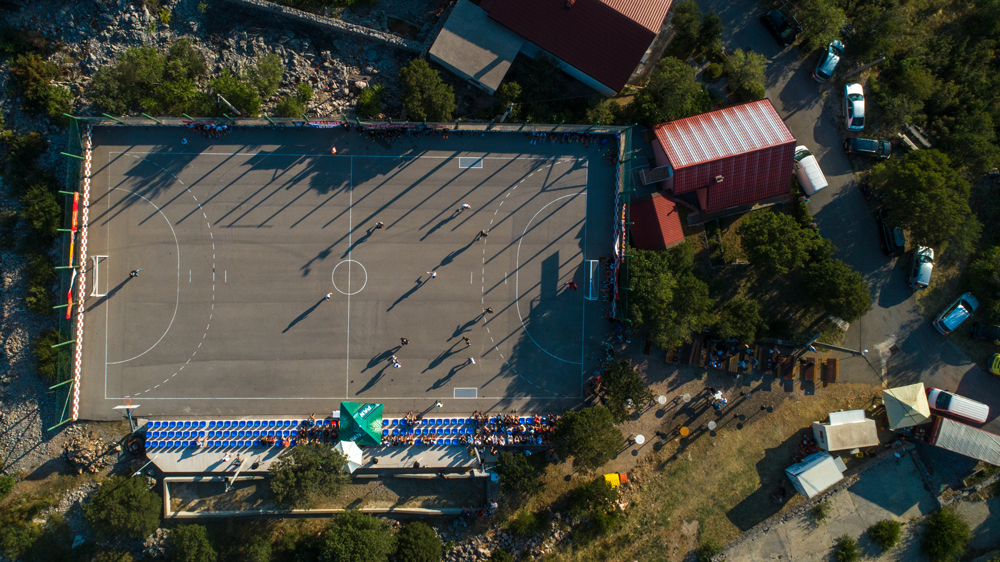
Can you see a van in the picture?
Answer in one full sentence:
Yes, a van appears in the view.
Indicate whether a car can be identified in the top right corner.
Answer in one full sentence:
Yes, there is a car in the top right corner.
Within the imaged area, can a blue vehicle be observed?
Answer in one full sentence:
Yes, this view includes a blue vehicle.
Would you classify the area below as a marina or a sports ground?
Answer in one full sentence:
What you see here is a sports ground.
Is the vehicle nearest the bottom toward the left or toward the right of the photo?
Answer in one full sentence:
It is on the right.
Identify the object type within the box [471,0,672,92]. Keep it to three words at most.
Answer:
house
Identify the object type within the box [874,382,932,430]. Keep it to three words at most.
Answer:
gazebo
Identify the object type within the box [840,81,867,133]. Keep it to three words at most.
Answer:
car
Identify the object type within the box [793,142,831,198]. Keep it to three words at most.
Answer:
van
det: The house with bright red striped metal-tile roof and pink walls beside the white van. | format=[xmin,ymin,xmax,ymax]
[651,99,796,212]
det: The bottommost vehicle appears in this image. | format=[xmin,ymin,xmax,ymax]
[925,385,996,425]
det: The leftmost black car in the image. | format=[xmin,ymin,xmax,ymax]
[758,3,801,54]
